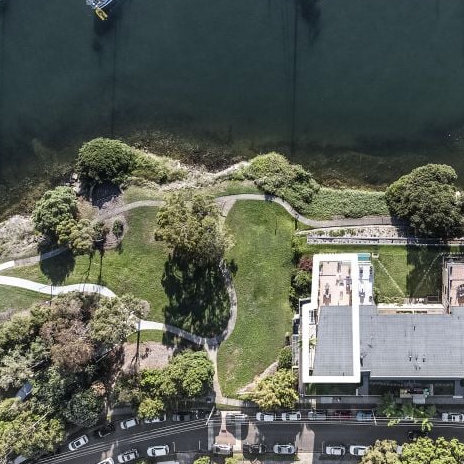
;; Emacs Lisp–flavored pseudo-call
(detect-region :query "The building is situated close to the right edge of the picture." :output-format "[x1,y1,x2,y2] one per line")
[300,252,464,395]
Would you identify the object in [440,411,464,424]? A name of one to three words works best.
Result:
vehicle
